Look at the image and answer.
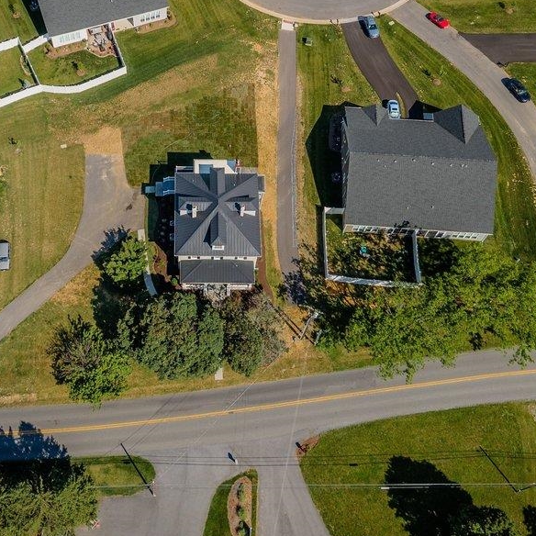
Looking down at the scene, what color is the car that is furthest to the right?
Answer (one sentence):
The car that is furthest to the right is black.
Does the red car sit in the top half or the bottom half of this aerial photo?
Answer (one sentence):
Seen from above, the red car lies in the top half of the view.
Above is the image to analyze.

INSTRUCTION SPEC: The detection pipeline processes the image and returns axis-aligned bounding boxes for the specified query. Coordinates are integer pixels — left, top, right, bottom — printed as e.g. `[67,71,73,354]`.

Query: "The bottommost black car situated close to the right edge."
[505,77,527,103]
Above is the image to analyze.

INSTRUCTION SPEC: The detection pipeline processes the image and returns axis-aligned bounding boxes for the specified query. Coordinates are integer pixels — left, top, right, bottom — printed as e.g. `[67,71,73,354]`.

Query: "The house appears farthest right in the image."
[334,102,498,242]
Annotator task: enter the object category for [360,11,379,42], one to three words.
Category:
vehicle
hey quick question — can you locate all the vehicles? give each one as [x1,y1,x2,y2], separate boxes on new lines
[505,77,527,103]
[0,241,9,269]
[424,9,450,32]
[360,11,379,42]
[387,95,401,117]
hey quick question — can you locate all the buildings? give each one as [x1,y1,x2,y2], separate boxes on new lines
[132,158,263,303]
[334,102,498,242]
[34,0,168,48]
